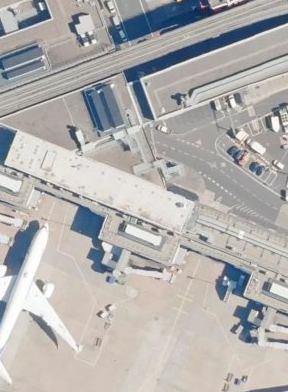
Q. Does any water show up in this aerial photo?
No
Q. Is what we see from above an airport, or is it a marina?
airport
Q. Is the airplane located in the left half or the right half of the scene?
left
